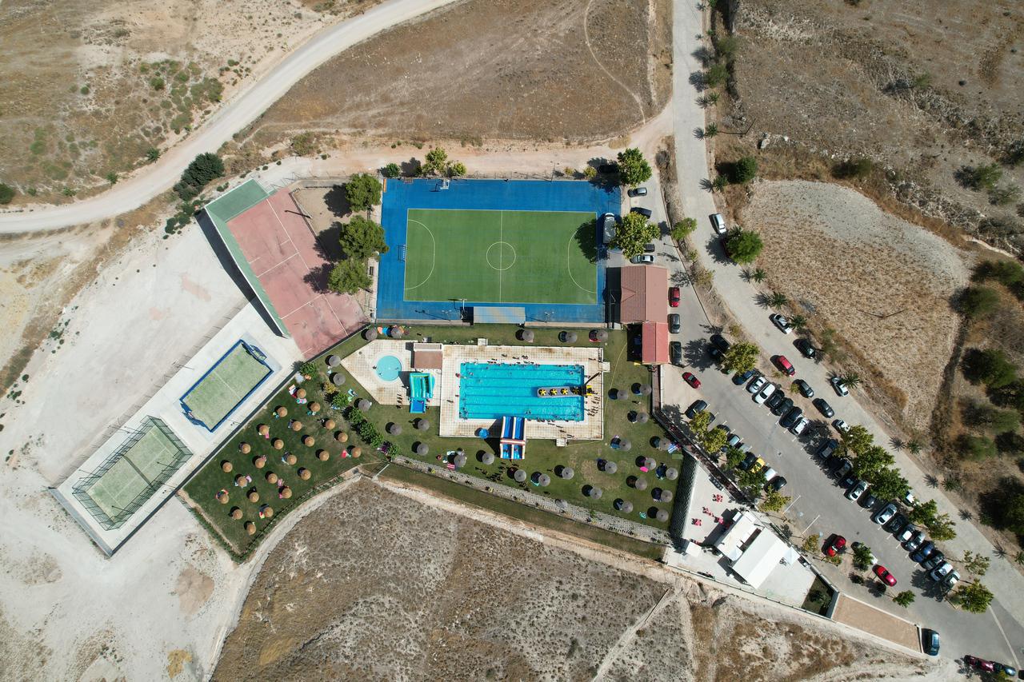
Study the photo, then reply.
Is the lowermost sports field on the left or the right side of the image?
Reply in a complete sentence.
It is on the left.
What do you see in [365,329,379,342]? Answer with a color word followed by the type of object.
gray umbrella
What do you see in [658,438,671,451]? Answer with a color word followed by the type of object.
gray umbrella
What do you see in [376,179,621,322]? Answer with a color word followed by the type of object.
green soccer field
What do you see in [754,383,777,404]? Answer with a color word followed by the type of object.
white car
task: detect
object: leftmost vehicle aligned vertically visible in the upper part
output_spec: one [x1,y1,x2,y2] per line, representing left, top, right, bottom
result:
[604,215,616,245]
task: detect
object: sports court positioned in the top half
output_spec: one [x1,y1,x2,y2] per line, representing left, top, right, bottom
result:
[203,177,365,356]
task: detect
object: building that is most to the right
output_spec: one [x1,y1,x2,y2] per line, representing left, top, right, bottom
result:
[714,511,788,588]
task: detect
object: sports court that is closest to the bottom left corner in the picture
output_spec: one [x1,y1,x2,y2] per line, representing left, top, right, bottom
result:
[73,420,190,529]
